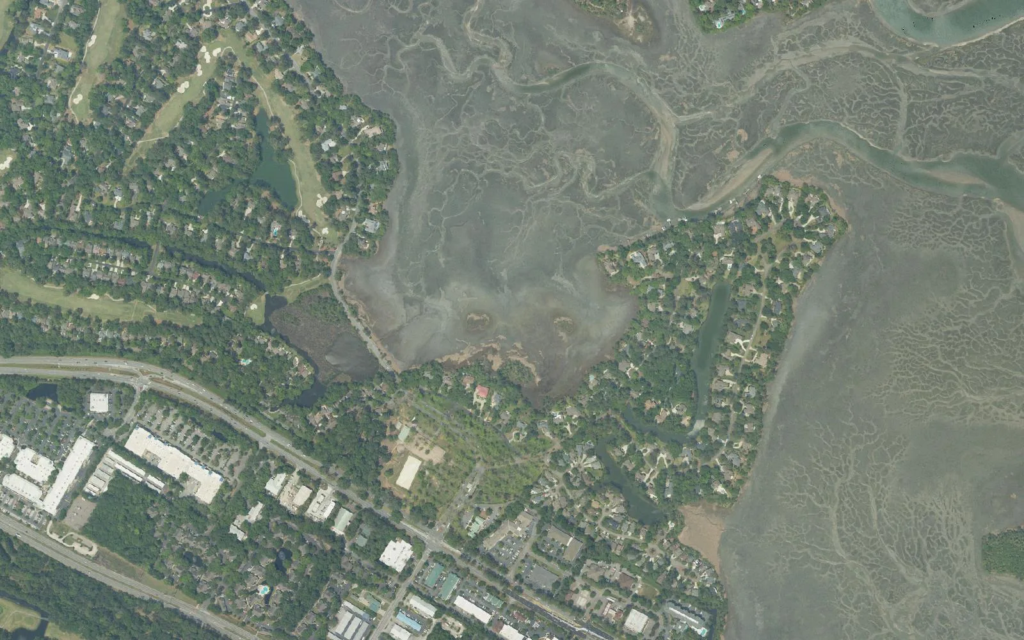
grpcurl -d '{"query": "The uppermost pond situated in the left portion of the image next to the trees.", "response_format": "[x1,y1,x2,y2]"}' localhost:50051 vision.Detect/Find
[200,111,298,215]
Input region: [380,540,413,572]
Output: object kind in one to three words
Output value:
building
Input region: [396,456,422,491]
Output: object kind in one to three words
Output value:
building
